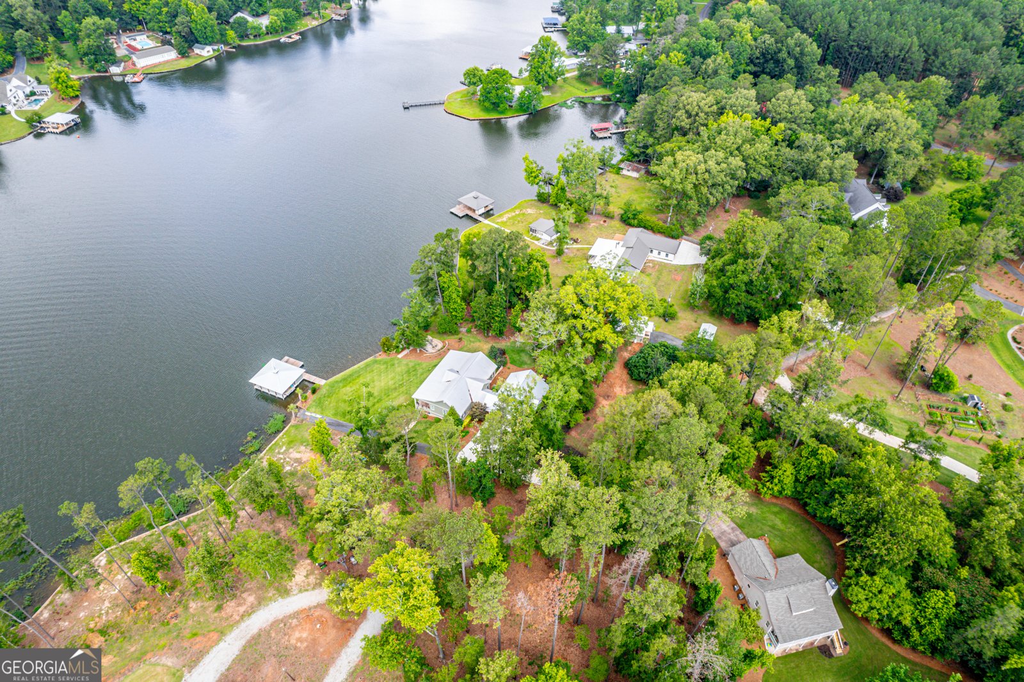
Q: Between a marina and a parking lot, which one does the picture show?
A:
marina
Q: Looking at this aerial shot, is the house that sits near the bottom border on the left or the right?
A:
right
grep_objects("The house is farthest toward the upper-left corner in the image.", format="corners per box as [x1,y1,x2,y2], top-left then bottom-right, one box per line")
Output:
[0,72,58,109]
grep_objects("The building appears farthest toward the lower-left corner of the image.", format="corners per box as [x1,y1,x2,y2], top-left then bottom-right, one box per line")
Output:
[249,356,327,403]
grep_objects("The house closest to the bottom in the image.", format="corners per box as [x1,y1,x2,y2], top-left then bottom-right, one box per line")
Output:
[729,538,845,658]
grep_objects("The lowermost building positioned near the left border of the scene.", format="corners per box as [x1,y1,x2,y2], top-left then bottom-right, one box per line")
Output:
[35,112,81,135]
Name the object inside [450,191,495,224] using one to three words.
building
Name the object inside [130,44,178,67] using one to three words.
building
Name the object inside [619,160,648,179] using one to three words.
shed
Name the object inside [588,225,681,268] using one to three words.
house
